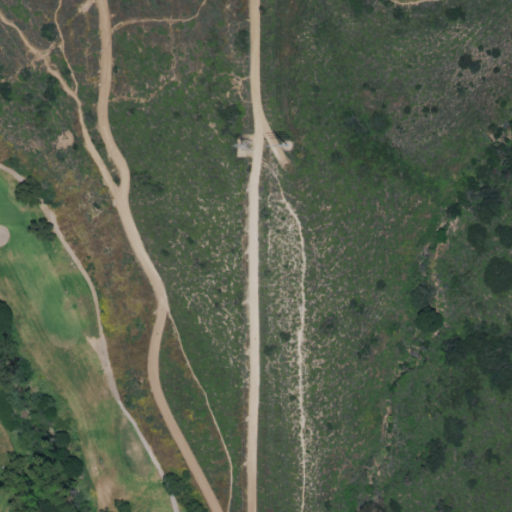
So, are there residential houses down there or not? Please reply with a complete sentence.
No, this view has no residential house in it.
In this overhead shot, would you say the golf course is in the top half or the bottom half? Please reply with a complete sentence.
Seen from above, the golf course lies in the bottom half of the view.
